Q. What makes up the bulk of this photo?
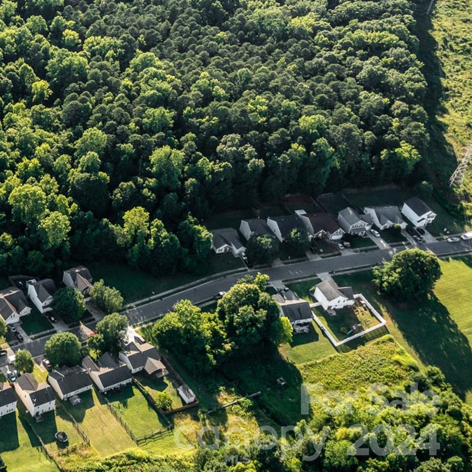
trees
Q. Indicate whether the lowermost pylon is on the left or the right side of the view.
right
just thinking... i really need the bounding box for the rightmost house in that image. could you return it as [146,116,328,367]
[401,196,438,226]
